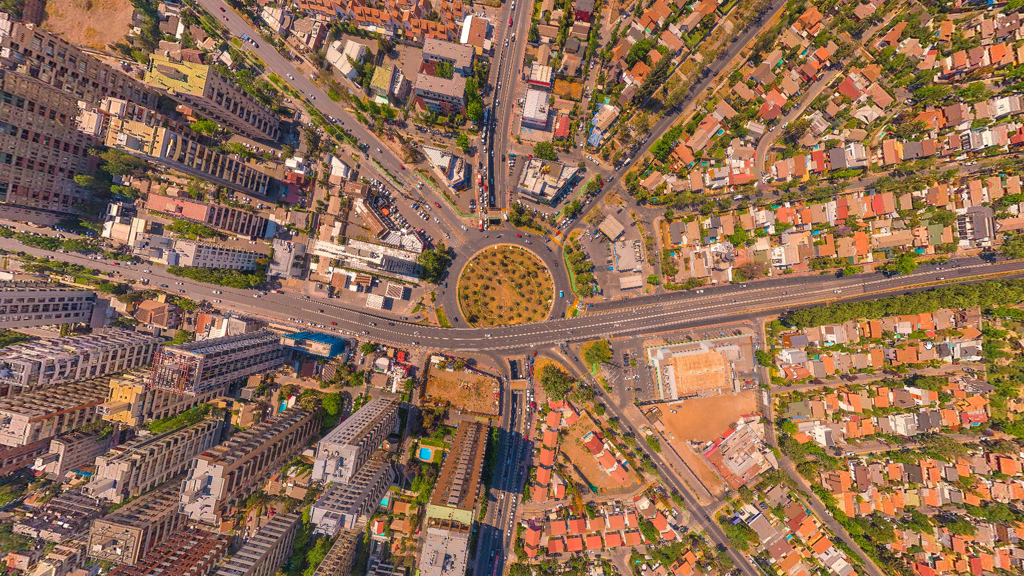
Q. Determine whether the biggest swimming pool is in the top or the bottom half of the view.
bottom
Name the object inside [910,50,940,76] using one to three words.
house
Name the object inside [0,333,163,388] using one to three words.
building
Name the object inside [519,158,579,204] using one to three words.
building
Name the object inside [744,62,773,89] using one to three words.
house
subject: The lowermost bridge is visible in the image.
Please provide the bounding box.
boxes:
[252,252,1024,350]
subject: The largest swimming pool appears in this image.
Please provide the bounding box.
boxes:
[414,443,435,465]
